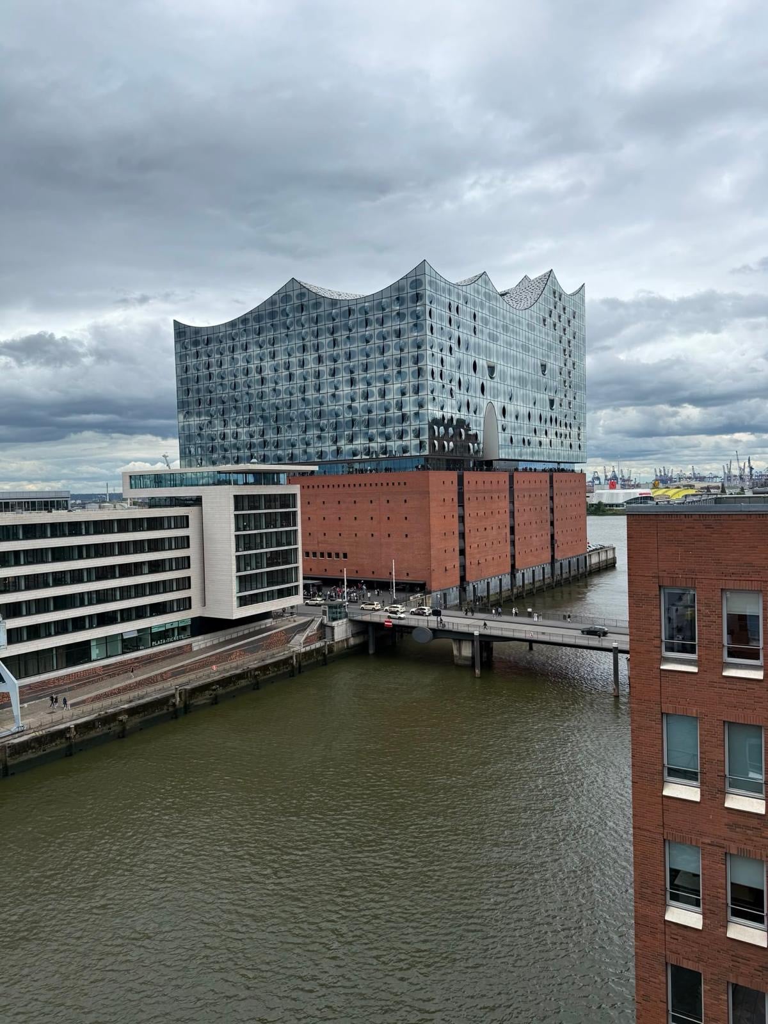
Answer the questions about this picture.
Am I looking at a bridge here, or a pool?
bridge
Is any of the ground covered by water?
Yes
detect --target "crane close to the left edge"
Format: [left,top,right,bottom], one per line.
[0,622,31,730]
